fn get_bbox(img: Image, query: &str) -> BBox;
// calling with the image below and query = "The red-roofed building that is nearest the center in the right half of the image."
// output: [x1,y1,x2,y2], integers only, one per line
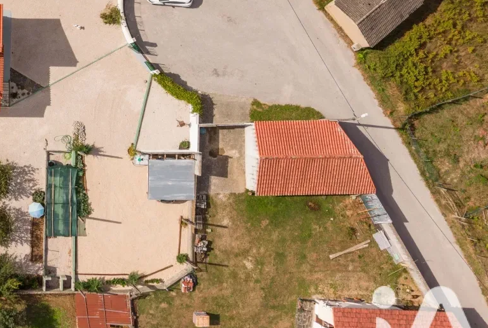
[248,119,376,196]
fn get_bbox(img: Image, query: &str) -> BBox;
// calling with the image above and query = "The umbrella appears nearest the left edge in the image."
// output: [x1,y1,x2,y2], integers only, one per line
[29,202,44,217]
